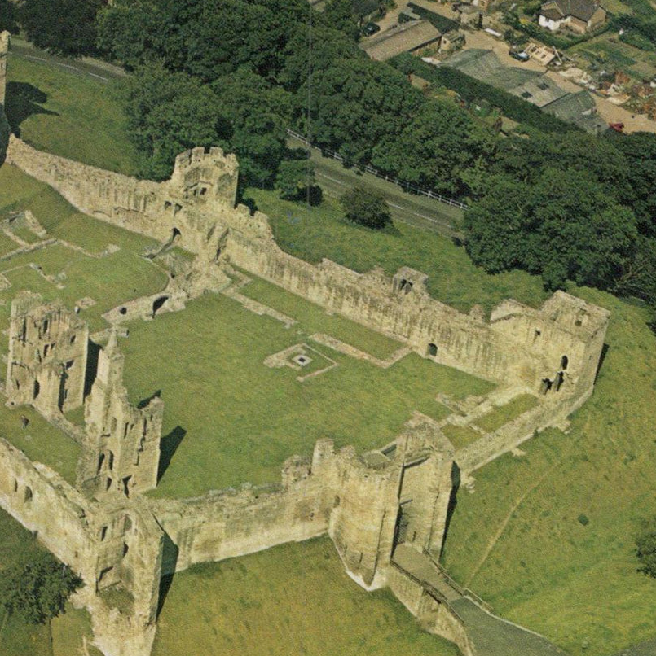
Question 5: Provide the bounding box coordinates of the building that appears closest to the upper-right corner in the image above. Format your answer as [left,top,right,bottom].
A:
[539,0,594,33]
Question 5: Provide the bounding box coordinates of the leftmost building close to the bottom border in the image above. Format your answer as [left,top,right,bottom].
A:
[70,476,171,656]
